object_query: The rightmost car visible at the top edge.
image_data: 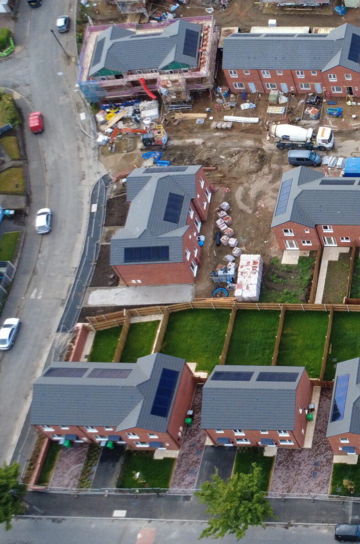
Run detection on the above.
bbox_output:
[56,15,71,33]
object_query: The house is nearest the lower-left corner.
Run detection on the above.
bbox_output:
[31,350,193,450]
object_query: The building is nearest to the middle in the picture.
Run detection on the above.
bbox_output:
[115,176,212,283]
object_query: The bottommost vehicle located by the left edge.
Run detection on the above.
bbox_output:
[0,317,22,353]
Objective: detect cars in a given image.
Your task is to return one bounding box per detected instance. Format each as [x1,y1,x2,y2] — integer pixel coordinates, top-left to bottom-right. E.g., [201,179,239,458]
[36,207,54,237]
[56,15,71,33]
[332,523,360,544]
[0,317,22,353]
[28,112,45,135]
[28,0,41,8]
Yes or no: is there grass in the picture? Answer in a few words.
Yes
